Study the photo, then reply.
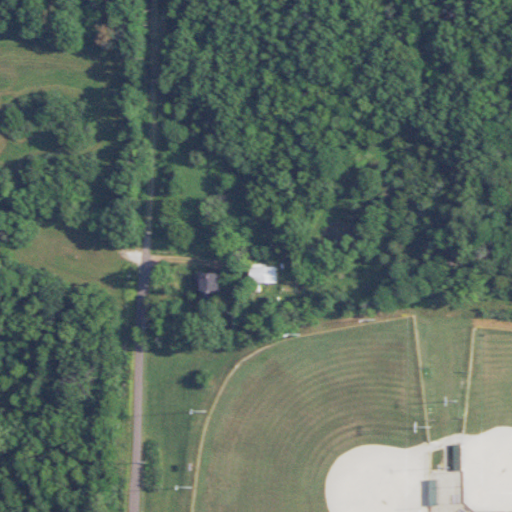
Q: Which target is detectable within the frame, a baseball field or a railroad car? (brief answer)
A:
baseball field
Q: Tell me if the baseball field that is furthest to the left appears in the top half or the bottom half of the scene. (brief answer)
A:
bottom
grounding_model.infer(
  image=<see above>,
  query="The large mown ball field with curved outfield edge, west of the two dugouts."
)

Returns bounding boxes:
[192,314,433,512]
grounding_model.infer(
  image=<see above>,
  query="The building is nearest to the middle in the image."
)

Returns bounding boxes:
[249,264,278,284]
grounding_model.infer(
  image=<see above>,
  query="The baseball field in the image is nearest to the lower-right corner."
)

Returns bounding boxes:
[460,319,512,512]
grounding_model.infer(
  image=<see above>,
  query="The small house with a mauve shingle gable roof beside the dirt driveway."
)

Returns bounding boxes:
[198,273,220,294]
